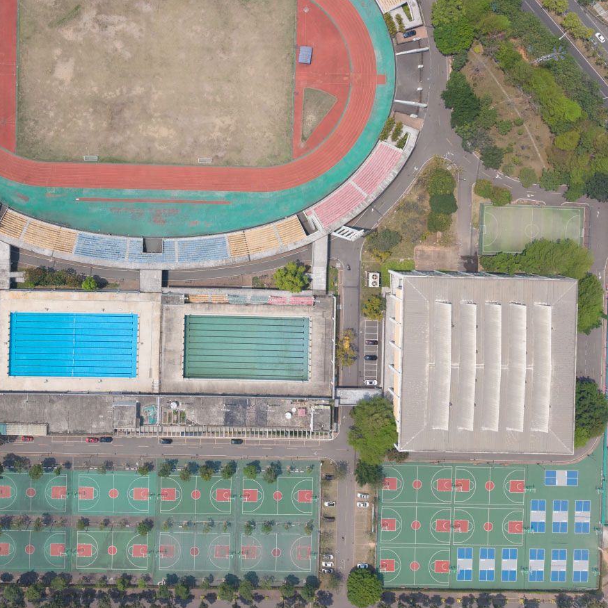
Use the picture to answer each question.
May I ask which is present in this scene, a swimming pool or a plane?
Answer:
swimming pool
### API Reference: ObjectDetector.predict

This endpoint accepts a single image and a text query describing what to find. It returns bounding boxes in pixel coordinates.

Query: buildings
[378,268,578,456]
[0,289,340,440]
